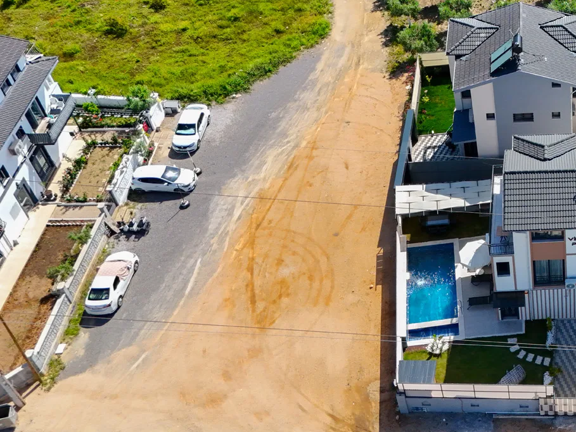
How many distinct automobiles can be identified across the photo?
3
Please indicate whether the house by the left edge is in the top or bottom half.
top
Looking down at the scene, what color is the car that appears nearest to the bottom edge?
white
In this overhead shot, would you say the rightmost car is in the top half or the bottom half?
top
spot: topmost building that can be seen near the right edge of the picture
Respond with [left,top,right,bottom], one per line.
[444,0,576,176]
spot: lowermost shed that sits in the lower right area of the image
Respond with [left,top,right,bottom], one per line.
[399,358,438,386]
